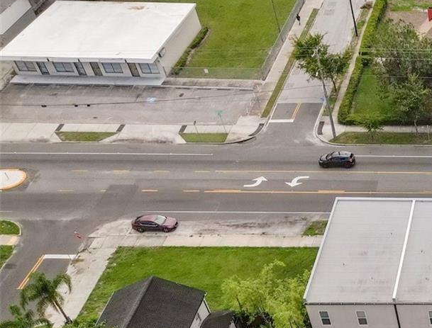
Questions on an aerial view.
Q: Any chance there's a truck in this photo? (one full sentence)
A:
No, there appears to be no truck in this shot.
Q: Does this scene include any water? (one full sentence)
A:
No, there's no water in this view.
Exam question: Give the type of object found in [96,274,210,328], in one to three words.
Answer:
house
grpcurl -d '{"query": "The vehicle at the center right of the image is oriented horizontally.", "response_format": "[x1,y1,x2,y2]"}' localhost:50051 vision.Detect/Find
[318,151,356,167]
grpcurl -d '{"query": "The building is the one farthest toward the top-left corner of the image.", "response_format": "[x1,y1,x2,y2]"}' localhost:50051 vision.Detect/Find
[0,0,41,55]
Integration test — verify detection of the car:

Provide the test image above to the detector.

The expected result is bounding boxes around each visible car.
[318,151,356,167]
[130,213,179,232]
